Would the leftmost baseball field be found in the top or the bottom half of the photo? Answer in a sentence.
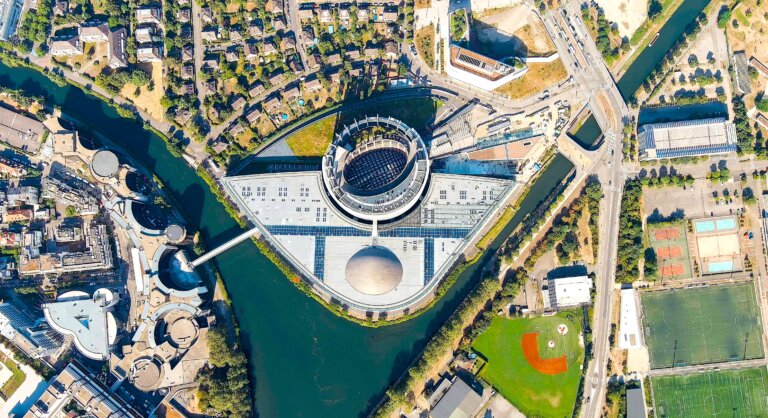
The bottom half of the photo is where the leftmost baseball field is.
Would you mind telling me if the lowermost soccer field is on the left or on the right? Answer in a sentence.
The lowermost soccer field sits on the right side.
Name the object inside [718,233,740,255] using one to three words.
sports court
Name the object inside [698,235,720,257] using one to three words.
sports court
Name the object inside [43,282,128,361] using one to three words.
building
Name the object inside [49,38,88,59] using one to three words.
house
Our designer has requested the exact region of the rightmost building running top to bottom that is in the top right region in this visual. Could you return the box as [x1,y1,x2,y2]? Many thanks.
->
[730,50,750,94]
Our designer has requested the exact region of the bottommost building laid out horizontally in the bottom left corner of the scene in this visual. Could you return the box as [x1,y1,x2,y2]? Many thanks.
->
[22,357,153,418]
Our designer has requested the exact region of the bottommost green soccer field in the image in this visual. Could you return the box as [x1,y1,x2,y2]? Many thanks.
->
[652,365,768,418]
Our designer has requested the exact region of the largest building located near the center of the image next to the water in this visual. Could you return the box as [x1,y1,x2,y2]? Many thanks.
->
[220,112,514,312]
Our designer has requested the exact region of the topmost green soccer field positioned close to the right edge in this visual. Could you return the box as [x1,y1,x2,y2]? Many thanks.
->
[641,280,766,368]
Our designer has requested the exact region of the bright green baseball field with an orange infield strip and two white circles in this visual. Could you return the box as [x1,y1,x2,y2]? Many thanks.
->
[472,311,585,418]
